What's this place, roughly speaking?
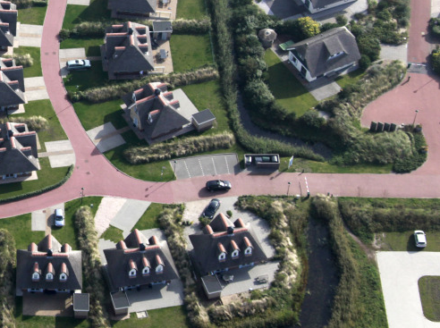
residential area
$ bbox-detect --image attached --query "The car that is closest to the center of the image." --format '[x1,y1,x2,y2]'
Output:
[205,179,230,192]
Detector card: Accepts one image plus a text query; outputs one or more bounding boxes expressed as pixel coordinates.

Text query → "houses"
[0,0,22,51]
[103,228,179,292]
[287,27,358,83]
[191,212,267,276]
[0,122,41,179]
[17,234,84,294]
[0,58,28,111]
[100,21,155,75]
[300,0,340,15]
[122,82,192,141]
[108,0,157,17]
